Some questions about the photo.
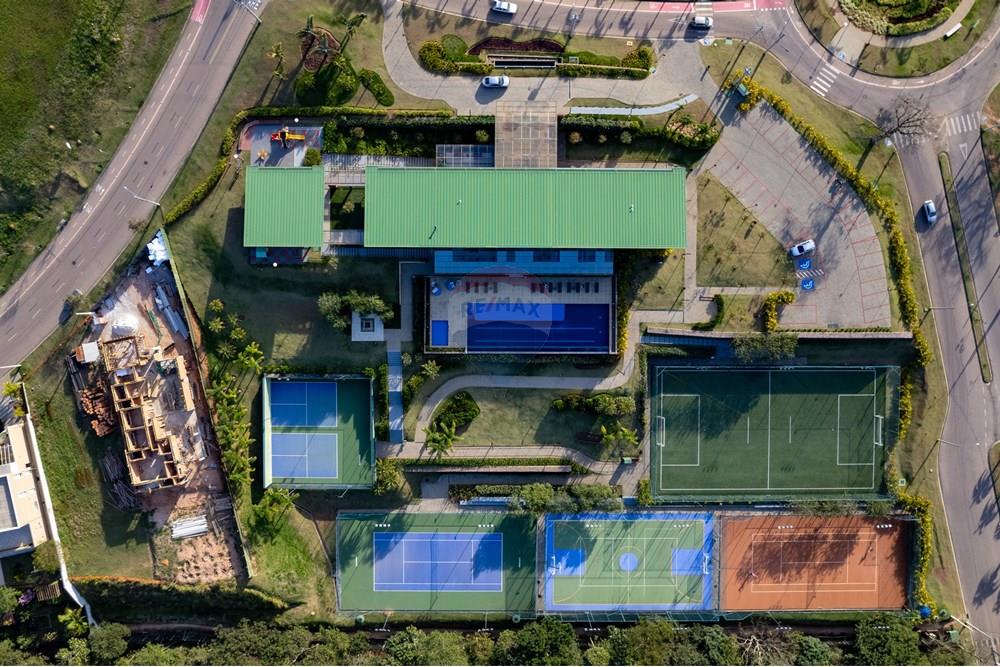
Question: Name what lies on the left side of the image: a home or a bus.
home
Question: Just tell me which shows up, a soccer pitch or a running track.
soccer pitch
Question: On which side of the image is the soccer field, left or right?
right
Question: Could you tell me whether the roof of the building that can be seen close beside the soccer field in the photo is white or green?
green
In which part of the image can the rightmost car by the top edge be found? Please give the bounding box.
[691,14,717,27]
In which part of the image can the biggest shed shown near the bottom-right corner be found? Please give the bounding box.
[909,617,954,641]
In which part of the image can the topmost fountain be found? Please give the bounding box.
[488,55,562,68]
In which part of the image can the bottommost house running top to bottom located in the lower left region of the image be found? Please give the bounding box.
[0,422,57,559]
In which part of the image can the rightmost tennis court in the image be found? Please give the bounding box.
[722,516,912,609]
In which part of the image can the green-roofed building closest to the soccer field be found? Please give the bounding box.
[364,166,688,275]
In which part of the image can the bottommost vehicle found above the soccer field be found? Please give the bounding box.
[791,240,817,255]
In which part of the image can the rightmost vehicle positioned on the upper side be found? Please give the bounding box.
[924,197,941,224]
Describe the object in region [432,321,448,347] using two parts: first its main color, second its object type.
blue swimming pool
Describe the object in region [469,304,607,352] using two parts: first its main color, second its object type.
blue swimming pool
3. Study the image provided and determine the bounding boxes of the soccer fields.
[648,366,886,494]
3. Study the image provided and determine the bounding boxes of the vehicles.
[924,197,941,224]
[483,73,508,86]
[791,240,817,255]
[492,0,519,12]
[691,14,717,27]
